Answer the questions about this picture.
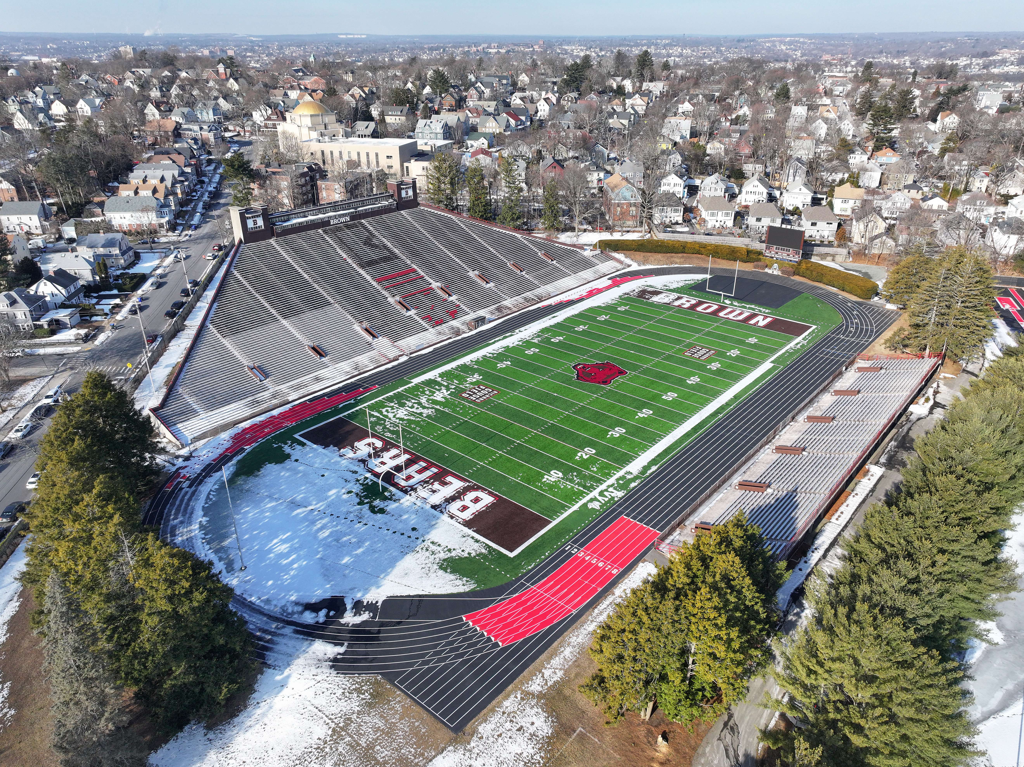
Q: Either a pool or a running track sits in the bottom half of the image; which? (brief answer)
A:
running track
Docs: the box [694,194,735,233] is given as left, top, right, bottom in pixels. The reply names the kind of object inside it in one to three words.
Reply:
house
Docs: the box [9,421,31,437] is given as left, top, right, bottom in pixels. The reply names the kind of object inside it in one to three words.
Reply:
car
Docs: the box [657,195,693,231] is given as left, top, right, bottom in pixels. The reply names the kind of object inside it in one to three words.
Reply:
house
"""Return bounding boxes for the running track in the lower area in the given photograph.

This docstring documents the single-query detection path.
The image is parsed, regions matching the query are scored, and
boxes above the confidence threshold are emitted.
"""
[150,266,901,734]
